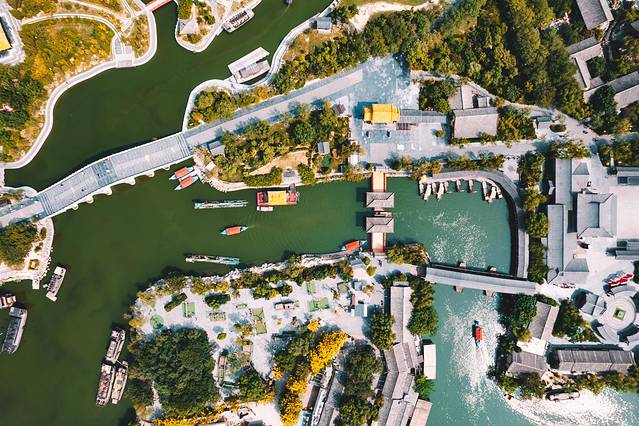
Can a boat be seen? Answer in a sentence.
Yes, the frame does contain a boat.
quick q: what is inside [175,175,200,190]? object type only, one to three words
boat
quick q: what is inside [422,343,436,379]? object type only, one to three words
pier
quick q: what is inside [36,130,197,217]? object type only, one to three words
bridge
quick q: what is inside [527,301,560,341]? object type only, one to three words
house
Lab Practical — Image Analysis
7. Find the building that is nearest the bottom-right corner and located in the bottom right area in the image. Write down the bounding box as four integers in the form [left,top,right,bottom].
[557,348,638,375]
